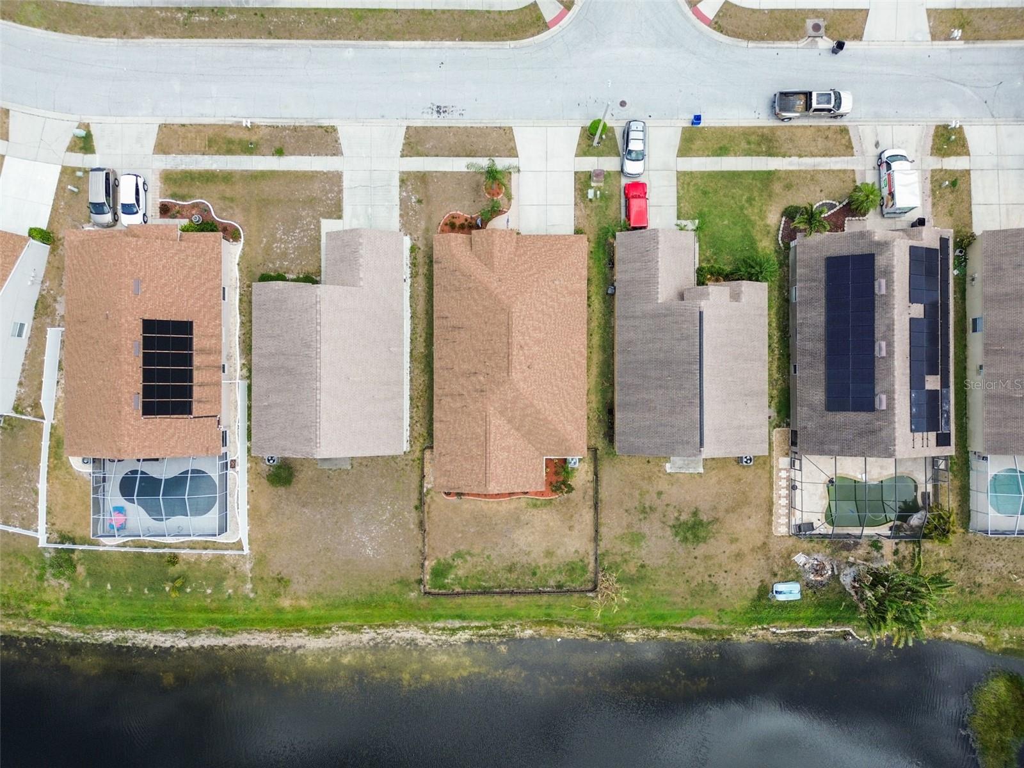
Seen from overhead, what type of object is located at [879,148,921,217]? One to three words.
van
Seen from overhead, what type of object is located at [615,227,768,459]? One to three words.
house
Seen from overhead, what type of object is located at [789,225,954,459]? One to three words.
house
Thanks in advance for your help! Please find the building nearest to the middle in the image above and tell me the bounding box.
[433,228,588,498]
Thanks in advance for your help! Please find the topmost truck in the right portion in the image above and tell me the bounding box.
[769,86,848,120]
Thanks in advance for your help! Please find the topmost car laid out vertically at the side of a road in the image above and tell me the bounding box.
[622,121,649,179]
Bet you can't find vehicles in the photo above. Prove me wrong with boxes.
[879,148,921,217]
[118,173,149,228]
[624,180,649,230]
[769,86,848,120]
[87,167,121,229]
[622,121,649,179]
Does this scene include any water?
Yes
